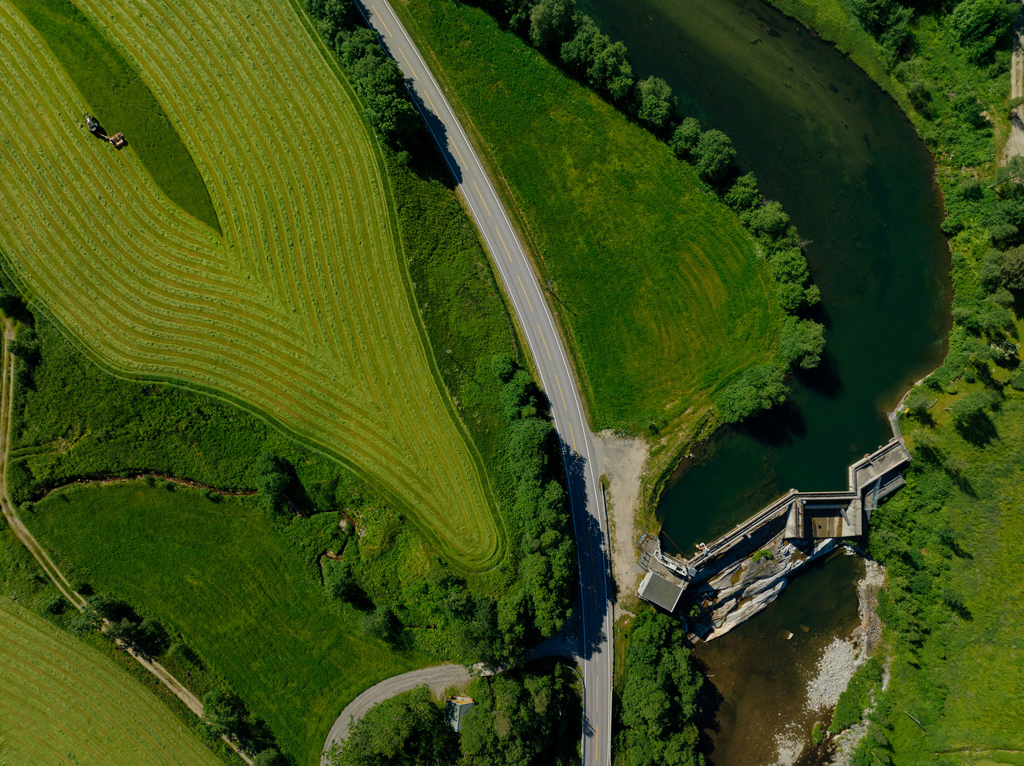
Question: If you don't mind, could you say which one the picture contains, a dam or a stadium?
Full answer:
I can see a dam in this picture.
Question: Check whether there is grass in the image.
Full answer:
Yes, some grass is visible.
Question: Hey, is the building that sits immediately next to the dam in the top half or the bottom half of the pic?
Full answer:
The bottom half of the photo is where the building that sits immediately next to the dam is.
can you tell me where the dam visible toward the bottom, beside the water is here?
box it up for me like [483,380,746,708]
[684,437,911,574]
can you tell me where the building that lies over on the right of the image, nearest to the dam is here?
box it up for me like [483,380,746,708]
[640,571,683,612]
